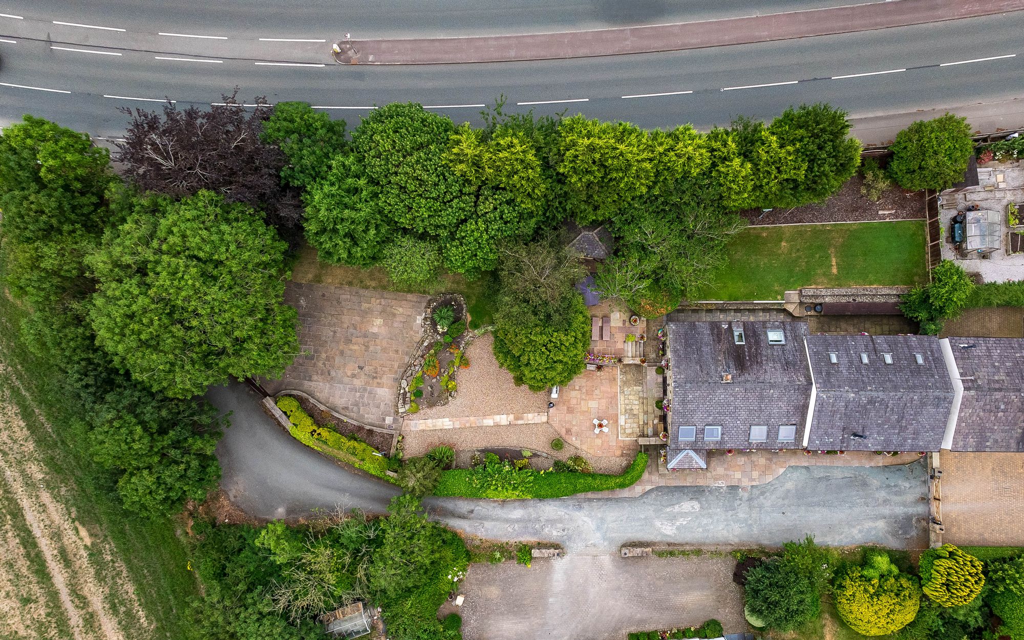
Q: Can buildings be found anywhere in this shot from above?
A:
Yes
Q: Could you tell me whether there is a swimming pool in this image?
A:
No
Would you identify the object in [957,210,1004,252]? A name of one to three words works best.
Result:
greenhouse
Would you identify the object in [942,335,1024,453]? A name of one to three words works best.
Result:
house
